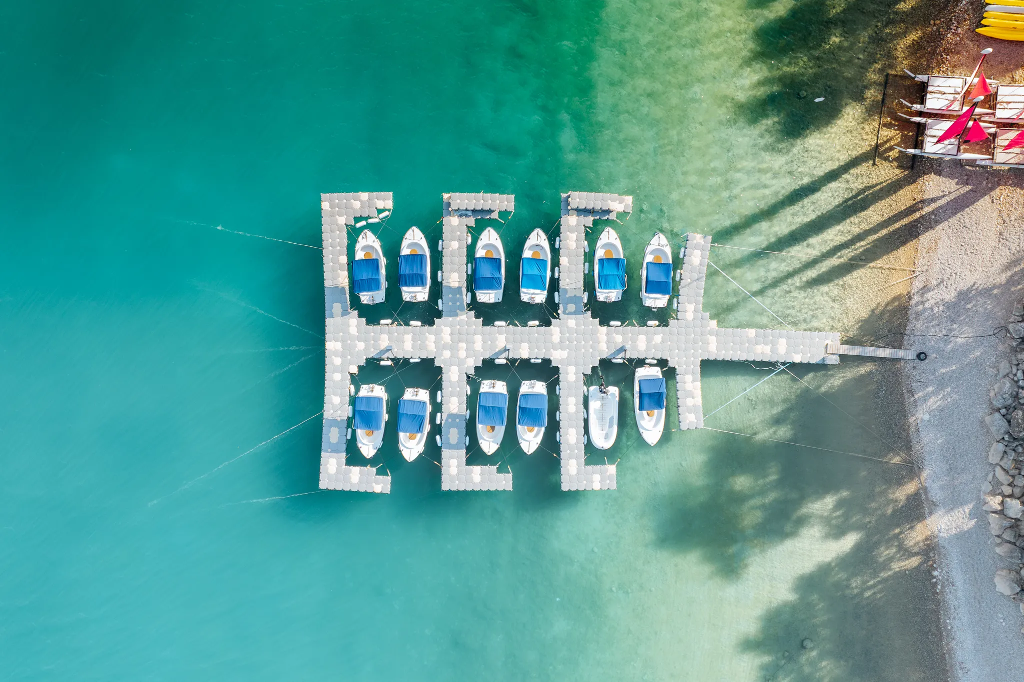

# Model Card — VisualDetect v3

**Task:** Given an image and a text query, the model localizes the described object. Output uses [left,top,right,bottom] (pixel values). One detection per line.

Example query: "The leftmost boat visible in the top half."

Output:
[353,228,387,305]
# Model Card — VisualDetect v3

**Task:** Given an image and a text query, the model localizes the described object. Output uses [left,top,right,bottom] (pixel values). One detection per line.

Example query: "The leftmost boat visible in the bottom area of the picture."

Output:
[355,383,388,459]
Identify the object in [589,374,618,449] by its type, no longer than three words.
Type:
boat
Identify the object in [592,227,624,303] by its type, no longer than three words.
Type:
boat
